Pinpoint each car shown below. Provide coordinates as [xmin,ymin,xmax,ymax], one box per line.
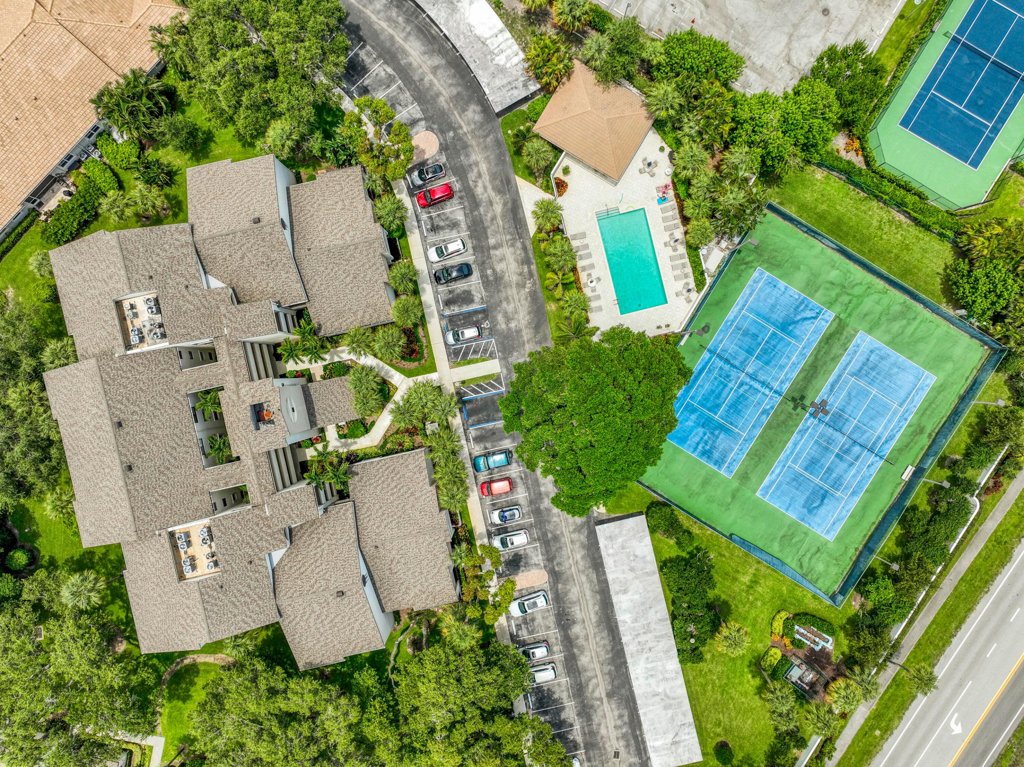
[491,526,531,550]
[417,185,456,210]
[478,476,515,497]
[514,636,553,659]
[489,503,524,525]
[474,449,513,471]
[411,163,448,188]
[446,325,484,346]
[434,263,474,286]
[428,239,468,263]
[508,589,550,614]
[520,659,558,683]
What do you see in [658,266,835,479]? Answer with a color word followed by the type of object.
blue tennis court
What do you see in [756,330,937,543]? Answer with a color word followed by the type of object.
blue tennis court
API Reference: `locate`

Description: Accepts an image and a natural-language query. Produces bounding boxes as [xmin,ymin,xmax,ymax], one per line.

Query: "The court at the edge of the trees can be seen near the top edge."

[899,0,1024,172]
